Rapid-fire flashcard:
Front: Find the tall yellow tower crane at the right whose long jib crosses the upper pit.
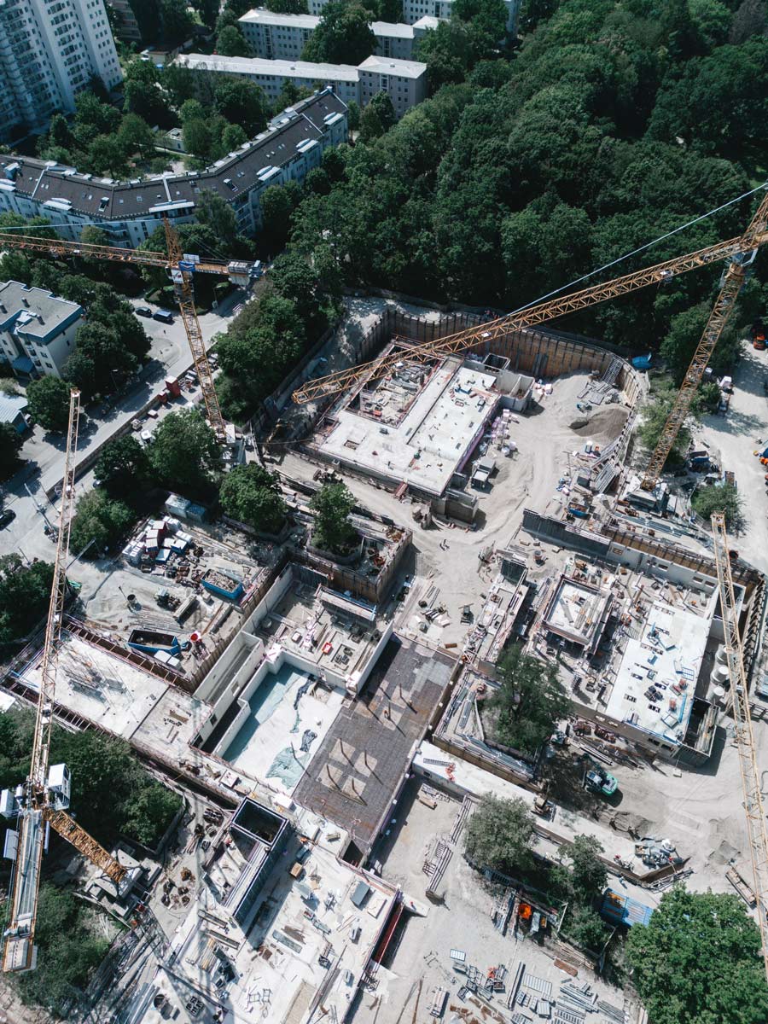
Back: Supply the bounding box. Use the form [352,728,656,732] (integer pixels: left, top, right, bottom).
[286,166,768,503]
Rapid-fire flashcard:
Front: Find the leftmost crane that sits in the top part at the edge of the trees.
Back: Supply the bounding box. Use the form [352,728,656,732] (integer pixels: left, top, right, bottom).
[0,208,266,445]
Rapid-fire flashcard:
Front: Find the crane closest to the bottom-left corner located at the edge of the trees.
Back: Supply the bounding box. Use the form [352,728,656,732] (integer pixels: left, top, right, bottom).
[2,388,148,976]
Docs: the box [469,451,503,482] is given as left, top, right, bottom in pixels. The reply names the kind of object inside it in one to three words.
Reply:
truck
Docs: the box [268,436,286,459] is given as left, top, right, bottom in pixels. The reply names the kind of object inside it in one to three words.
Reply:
work vehicle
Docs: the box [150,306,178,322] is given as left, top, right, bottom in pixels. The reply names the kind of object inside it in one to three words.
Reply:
vehicle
